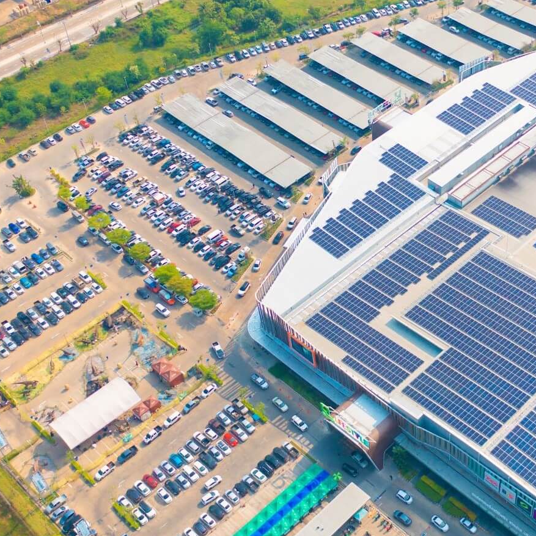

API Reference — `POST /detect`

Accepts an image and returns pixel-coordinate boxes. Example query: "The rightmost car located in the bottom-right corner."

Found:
[457,515,479,534]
